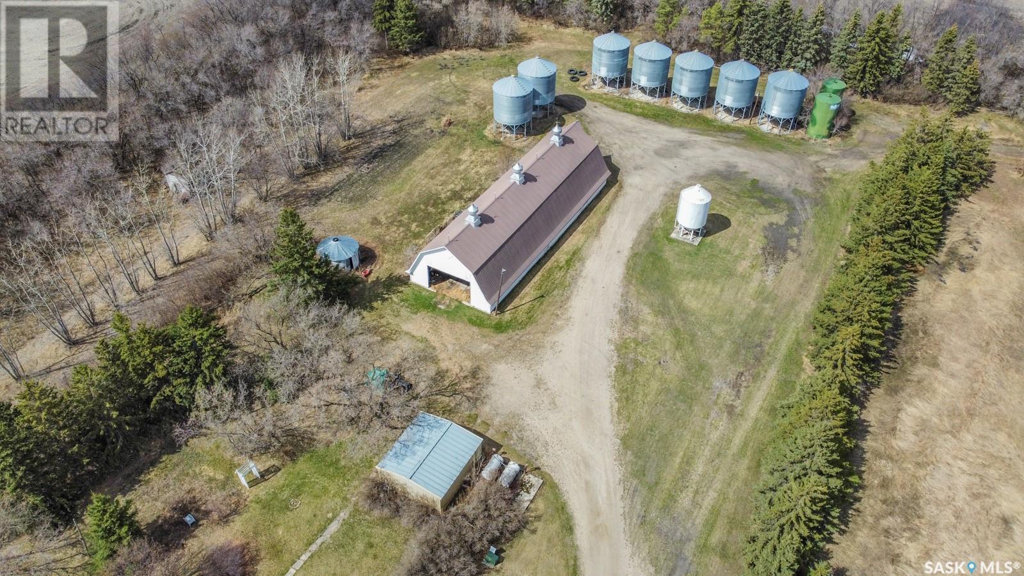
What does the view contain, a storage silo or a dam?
storage silo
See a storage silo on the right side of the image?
Yes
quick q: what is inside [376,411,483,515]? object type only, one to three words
shed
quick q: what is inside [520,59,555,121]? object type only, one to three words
silo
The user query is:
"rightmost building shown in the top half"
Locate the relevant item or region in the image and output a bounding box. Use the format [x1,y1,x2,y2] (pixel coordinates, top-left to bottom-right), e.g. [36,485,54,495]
[403,118,614,316]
